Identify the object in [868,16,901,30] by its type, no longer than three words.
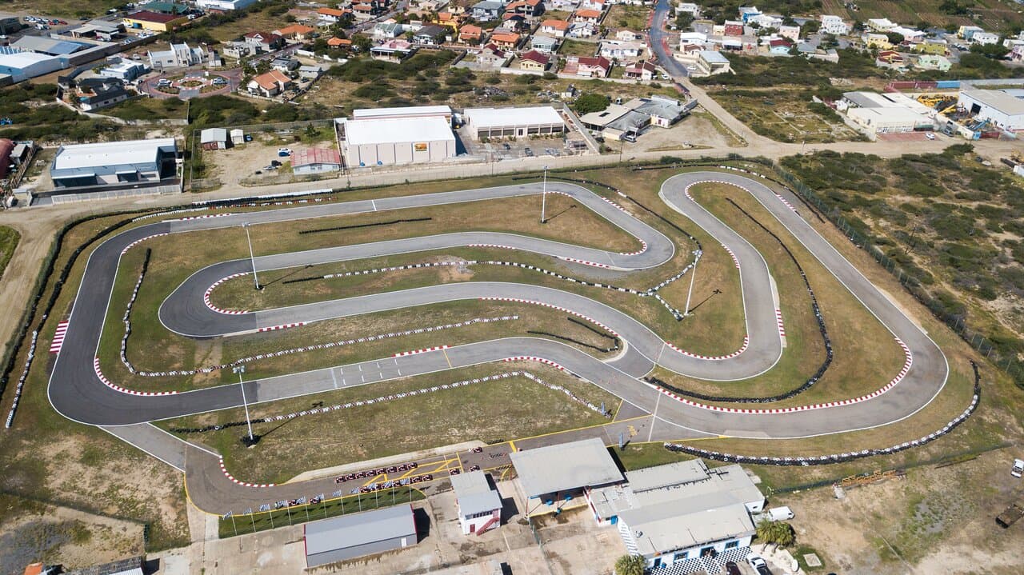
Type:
house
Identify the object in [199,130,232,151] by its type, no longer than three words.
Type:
shed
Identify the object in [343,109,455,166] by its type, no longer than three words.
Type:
building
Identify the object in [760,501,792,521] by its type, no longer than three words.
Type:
vehicle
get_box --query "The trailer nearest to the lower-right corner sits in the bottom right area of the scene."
[990,499,1024,533]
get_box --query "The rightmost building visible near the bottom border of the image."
[585,457,765,569]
